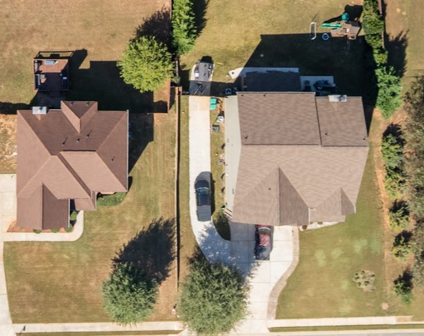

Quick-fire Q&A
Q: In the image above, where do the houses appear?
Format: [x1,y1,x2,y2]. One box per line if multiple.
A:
[226,73,369,227]
[17,100,129,230]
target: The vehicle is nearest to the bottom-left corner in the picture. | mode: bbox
[194,179,211,221]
